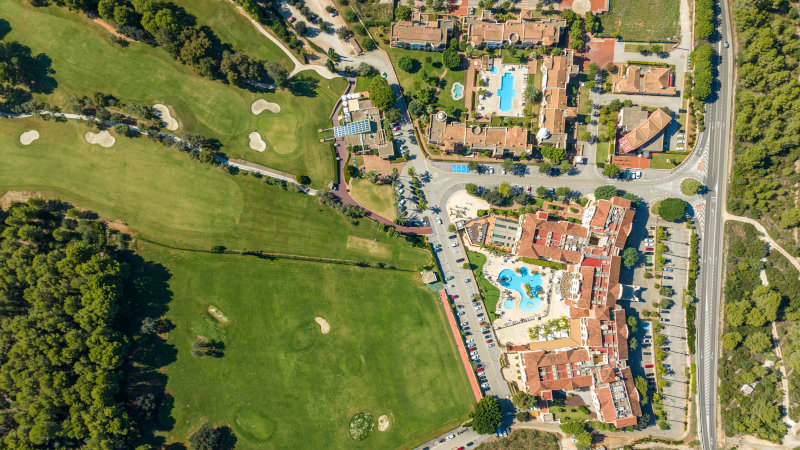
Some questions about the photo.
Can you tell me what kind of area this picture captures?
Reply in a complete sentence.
It's a golf course.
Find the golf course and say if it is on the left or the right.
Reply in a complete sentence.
The golf course appears in the left half of the scene.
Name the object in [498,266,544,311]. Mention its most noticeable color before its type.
blue swimming pool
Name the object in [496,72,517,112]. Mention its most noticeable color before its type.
blue swimming pool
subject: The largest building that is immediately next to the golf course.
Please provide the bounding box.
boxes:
[505,196,642,428]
